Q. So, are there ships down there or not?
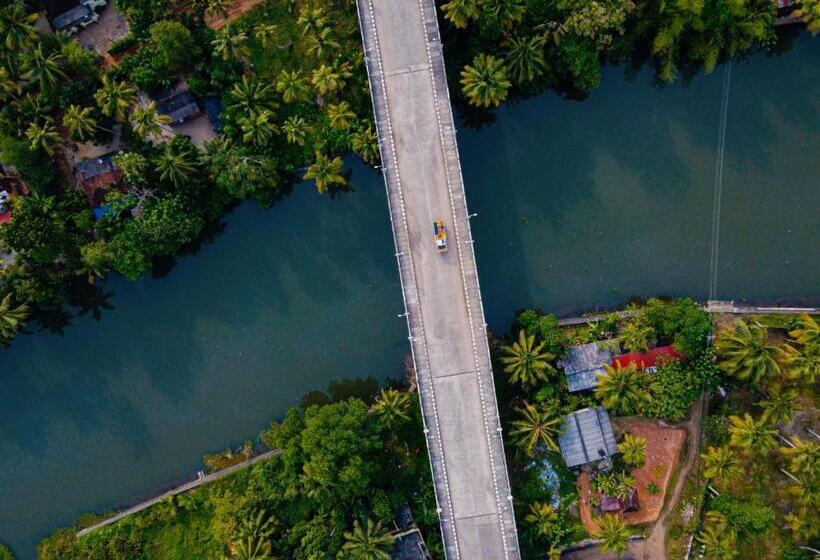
No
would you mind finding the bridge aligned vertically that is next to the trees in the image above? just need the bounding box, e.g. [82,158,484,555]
[356,0,521,560]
